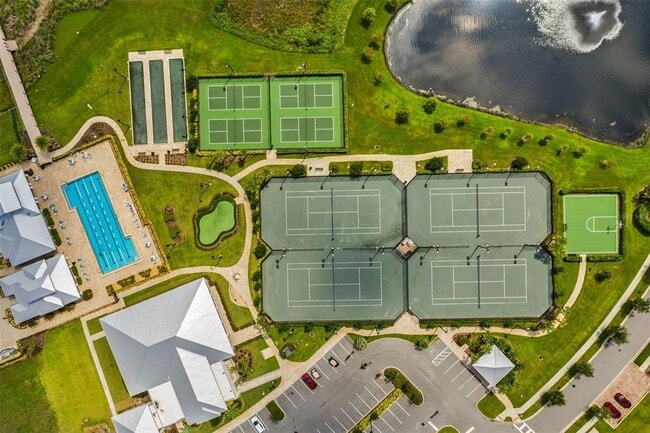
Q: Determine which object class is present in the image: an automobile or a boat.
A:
automobile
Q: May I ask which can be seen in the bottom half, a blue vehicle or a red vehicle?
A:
red vehicle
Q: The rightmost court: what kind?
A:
basketball court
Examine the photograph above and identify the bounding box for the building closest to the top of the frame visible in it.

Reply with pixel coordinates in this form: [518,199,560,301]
[0,170,60,267]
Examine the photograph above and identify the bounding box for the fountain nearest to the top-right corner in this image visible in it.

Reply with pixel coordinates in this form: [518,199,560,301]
[514,0,625,62]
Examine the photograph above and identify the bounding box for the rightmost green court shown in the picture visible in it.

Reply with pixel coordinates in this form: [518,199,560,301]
[564,194,619,253]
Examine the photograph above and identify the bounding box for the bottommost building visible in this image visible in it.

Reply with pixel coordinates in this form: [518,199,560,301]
[112,403,162,433]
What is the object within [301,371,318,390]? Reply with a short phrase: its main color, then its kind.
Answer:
red car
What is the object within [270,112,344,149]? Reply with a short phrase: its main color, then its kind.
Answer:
green sports court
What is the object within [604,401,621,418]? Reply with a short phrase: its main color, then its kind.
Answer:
red car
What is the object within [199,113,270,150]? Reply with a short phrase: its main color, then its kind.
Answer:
green sports court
